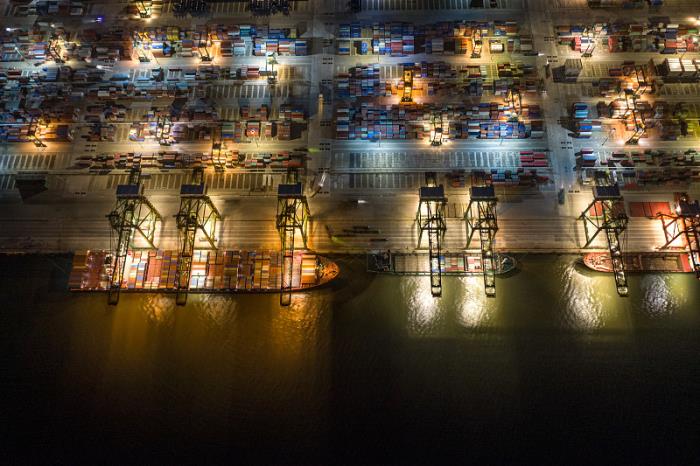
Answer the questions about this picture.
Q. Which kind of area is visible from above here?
port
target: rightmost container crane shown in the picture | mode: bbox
[653,168,700,286]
